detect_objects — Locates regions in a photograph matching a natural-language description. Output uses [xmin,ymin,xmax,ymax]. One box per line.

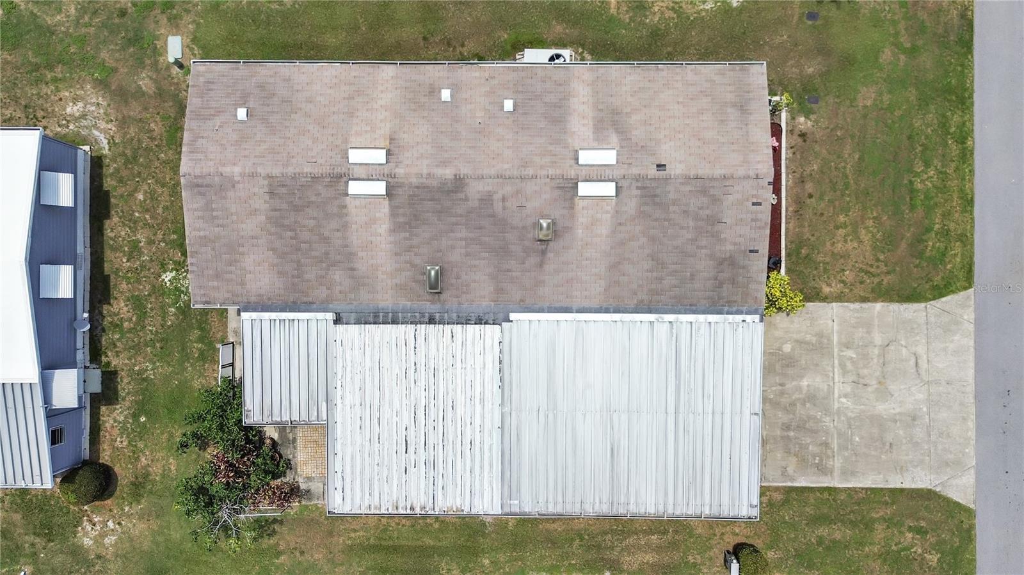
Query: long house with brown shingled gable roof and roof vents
[181,61,774,325]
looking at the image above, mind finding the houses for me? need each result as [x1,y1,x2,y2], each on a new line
[181,61,774,325]
[0,123,86,489]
